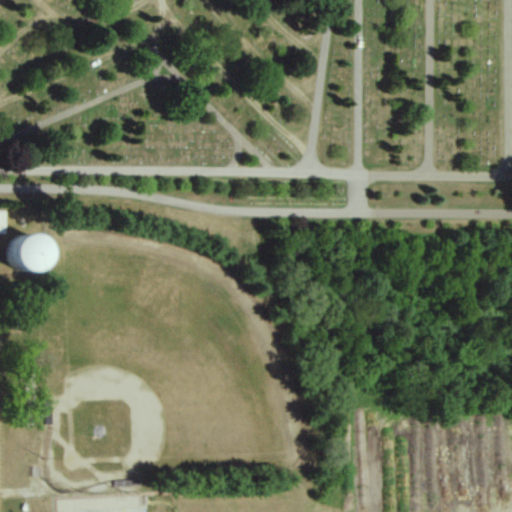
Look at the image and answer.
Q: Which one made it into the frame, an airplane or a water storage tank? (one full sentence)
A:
There is a water storage tank in the scene.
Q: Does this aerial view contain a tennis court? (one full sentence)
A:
No, the photo shows no tennis court.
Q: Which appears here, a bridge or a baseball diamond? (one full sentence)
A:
I can see a baseball diamond in this picture.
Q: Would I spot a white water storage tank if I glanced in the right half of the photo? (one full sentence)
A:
No, there is no white water storage tank in the right half of the photo.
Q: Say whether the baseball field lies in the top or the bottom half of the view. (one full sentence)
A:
The bottom half of the photo is where the baseball field is.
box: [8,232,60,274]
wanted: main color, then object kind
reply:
white water tank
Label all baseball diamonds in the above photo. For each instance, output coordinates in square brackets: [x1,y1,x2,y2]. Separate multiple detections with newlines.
[48,230,303,492]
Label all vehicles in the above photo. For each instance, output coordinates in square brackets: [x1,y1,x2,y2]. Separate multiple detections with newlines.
[93,59,104,66]
[359,37,364,48]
